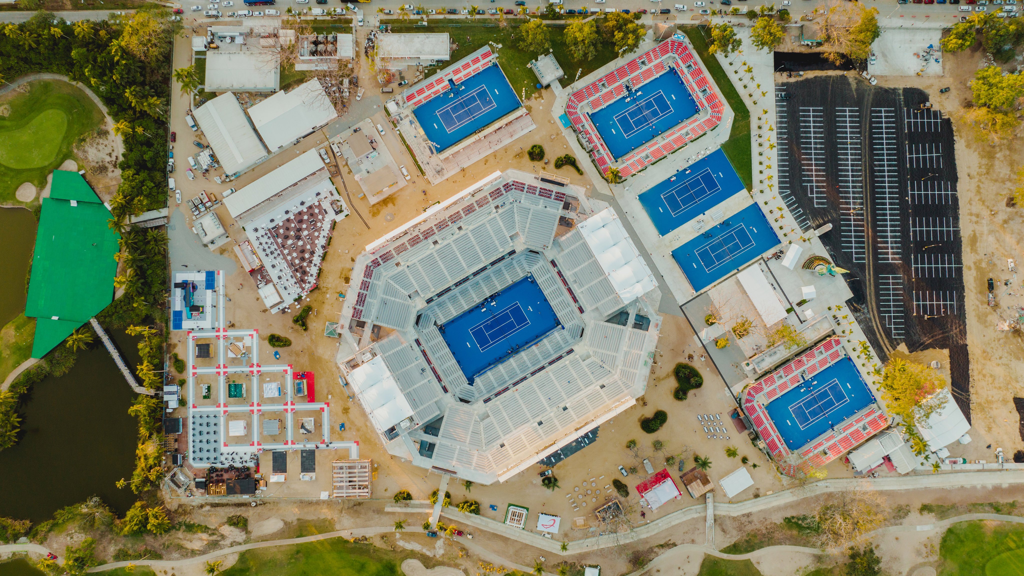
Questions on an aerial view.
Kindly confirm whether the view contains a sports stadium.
Yes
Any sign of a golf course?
Yes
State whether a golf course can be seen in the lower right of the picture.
Yes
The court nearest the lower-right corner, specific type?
tennis court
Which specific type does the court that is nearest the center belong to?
tennis court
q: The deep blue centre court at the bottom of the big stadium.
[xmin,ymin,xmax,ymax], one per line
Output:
[440,272,561,382]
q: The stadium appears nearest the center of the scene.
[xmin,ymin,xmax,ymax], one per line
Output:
[329,168,666,486]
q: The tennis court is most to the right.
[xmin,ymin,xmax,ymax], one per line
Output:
[766,356,875,451]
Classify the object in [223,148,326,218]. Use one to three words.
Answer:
building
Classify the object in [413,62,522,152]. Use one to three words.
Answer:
tennis court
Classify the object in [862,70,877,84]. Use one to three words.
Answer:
vehicle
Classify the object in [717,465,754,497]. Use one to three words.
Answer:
tent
